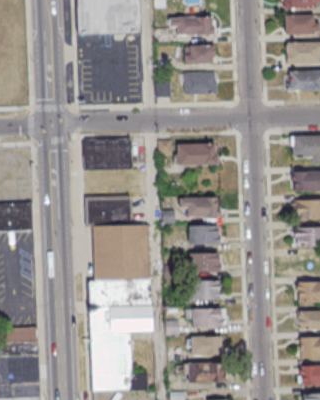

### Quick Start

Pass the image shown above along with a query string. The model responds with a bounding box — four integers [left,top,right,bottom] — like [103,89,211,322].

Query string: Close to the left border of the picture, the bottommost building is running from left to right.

[0,384,40,398]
